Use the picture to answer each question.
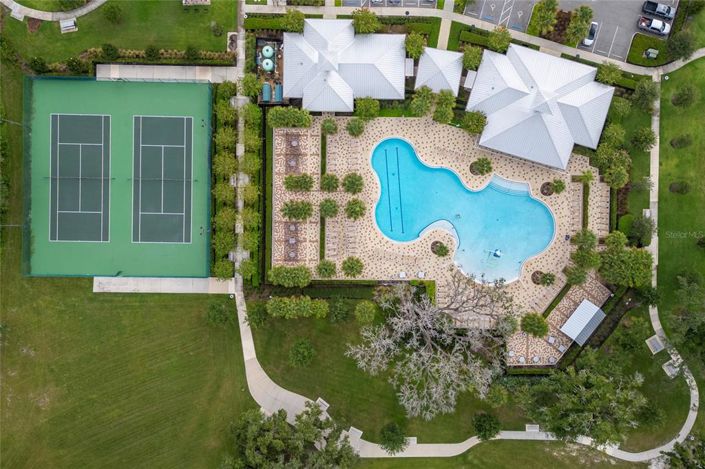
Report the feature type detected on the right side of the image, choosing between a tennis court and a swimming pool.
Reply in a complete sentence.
It is a swimming pool that can be seen on the right side of the image.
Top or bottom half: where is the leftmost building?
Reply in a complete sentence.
The top half of the photo is where the leftmost building is.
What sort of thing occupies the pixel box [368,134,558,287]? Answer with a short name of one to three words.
swimming pool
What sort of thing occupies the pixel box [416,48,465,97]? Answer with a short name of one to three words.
building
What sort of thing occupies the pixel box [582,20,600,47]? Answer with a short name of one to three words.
car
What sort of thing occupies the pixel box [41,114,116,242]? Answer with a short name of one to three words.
tennis court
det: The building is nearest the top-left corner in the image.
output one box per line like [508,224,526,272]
[284,19,406,112]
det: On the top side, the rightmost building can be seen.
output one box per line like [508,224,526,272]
[467,39,614,166]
